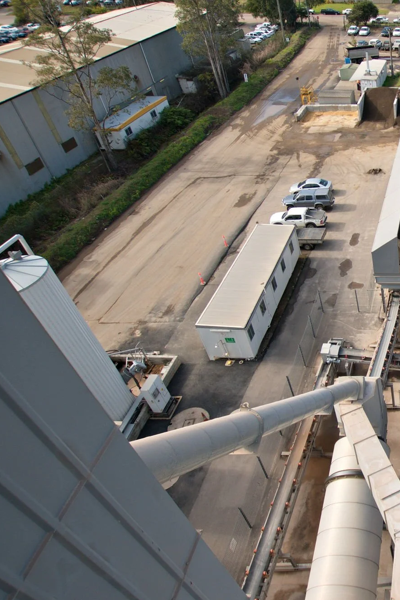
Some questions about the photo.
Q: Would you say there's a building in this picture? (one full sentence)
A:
Yes, the photo shows a building.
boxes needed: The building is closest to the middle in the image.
[192,223,301,358]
